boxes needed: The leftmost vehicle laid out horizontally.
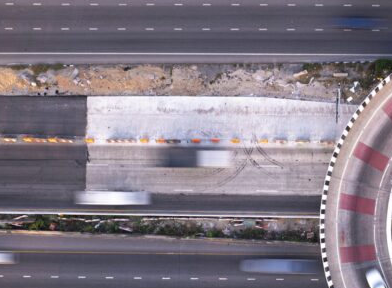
[87,190,136,206]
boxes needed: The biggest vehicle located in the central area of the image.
[161,147,229,167]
